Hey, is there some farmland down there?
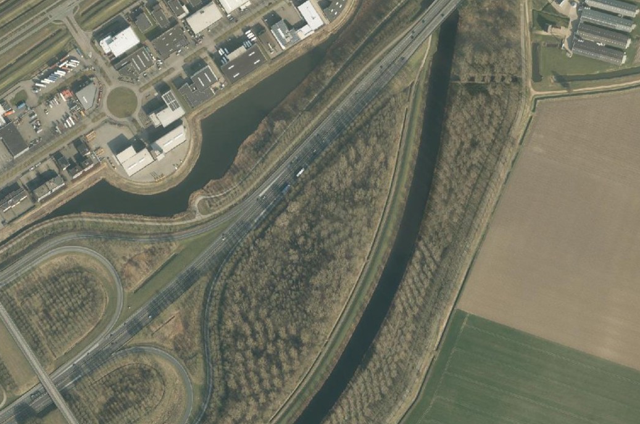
Yes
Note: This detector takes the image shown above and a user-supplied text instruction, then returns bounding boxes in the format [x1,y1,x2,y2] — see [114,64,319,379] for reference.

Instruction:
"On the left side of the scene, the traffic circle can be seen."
[101,81,142,123]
